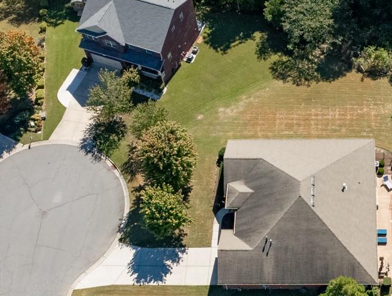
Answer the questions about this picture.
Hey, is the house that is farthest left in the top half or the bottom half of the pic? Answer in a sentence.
The house that is farthest left sits in the top half of the picture.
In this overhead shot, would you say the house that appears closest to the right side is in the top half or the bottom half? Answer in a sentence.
The house that appears closest to the right side is in the bottom half of the image.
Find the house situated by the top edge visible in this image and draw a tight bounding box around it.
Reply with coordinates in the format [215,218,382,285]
[75,0,198,91]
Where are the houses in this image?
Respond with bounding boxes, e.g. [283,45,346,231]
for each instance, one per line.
[216,138,379,290]
[75,0,198,91]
